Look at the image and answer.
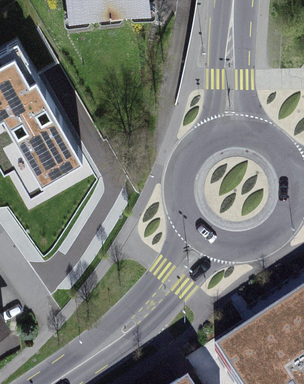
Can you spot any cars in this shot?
Yes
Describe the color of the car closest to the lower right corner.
black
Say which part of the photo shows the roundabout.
right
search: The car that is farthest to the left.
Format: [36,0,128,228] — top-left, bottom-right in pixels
[2,305,24,321]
